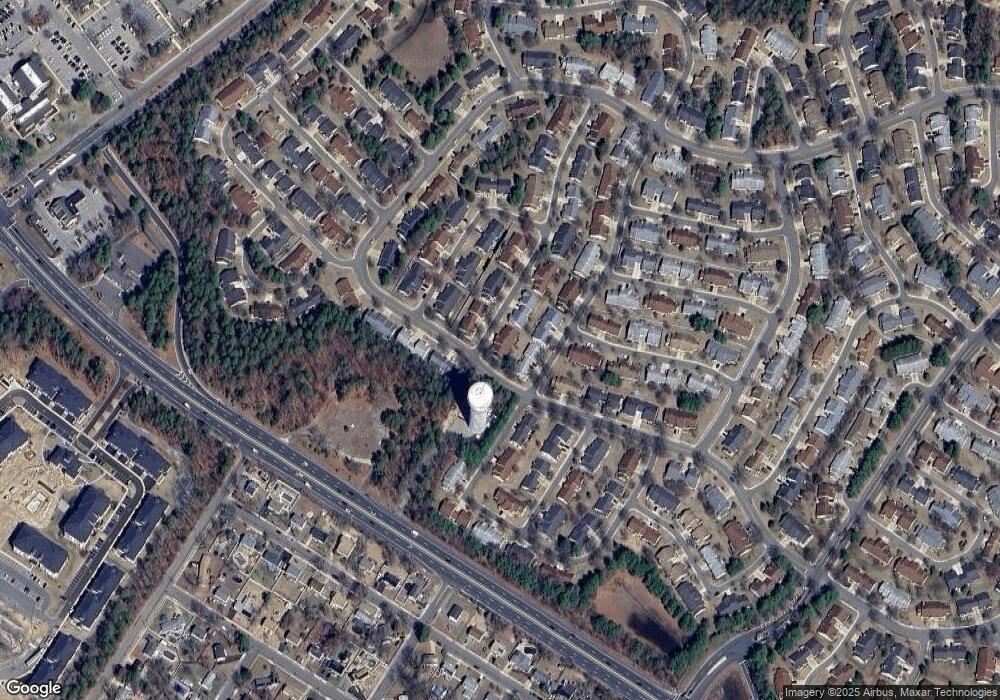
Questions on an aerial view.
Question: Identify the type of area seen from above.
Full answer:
This looks like a residential area.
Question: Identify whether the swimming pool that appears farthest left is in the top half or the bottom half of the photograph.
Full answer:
The swimming pool that appears farthest left sits in the bottom half of the picture.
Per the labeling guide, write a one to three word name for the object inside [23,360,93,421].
building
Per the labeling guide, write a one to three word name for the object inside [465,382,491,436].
water tower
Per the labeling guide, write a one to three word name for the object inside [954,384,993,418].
house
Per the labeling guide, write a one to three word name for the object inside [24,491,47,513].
swimming pool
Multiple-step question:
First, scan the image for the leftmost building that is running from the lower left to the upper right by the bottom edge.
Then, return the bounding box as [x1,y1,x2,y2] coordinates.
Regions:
[24,635,77,696]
